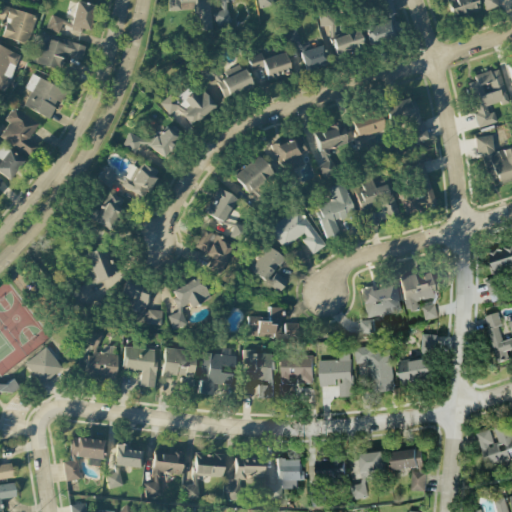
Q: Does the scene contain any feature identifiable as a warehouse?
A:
No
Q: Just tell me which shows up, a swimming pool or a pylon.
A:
swimming pool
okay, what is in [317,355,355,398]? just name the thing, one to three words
house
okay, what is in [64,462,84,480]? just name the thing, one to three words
building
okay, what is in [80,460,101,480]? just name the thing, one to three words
swimming pool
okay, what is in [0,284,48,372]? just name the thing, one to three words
basketball court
